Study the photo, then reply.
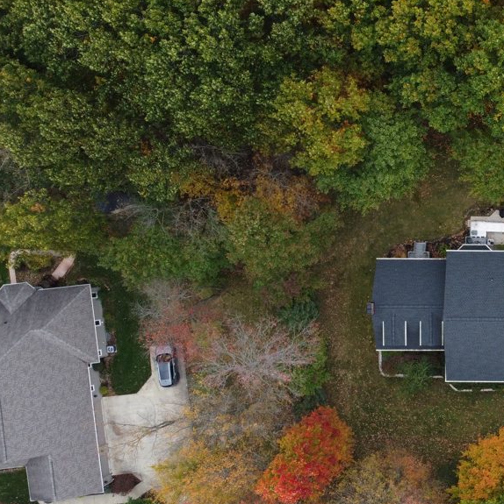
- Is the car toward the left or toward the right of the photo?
left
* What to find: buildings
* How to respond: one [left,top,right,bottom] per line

[366,244,504,384]
[0,281,113,502]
